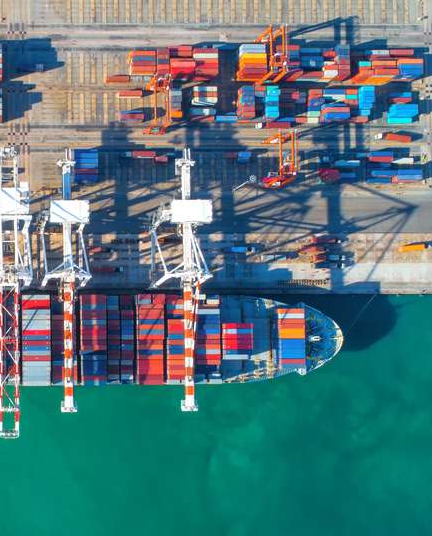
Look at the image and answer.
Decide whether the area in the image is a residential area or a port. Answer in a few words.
port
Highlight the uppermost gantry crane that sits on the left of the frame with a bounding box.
[141,72,173,136]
